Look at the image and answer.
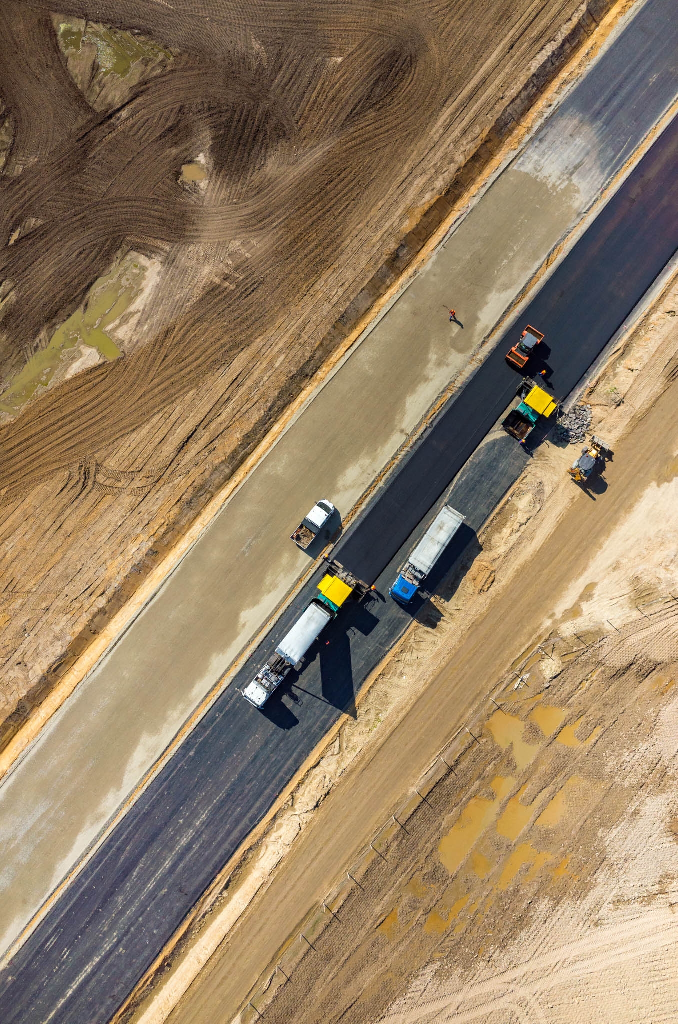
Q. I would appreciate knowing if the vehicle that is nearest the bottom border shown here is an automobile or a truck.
truck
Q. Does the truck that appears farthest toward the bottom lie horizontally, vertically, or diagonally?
diagonally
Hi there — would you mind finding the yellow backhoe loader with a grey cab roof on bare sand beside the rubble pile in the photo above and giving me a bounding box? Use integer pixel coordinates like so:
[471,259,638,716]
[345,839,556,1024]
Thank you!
[560,436,606,481]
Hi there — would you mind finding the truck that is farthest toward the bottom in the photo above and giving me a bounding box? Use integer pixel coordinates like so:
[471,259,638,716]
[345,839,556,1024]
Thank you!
[239,600,334,710]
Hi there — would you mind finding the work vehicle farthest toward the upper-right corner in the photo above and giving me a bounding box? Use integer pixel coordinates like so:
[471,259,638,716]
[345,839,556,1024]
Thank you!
[505,325,544,368]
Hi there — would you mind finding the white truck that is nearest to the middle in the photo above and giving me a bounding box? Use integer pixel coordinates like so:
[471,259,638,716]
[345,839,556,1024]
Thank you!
[291,499,333,549]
